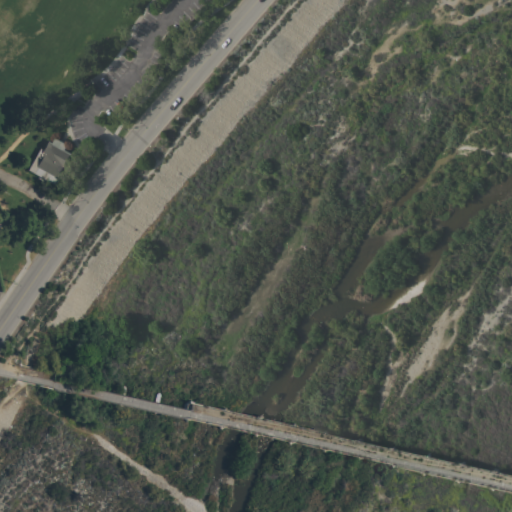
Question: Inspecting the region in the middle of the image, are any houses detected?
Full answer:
No, in the middle of the image there is no house.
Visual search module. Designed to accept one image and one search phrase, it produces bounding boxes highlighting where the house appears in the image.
[30,140,71,182]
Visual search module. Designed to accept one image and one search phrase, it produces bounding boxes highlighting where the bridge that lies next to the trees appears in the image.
[187,401,512,494]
